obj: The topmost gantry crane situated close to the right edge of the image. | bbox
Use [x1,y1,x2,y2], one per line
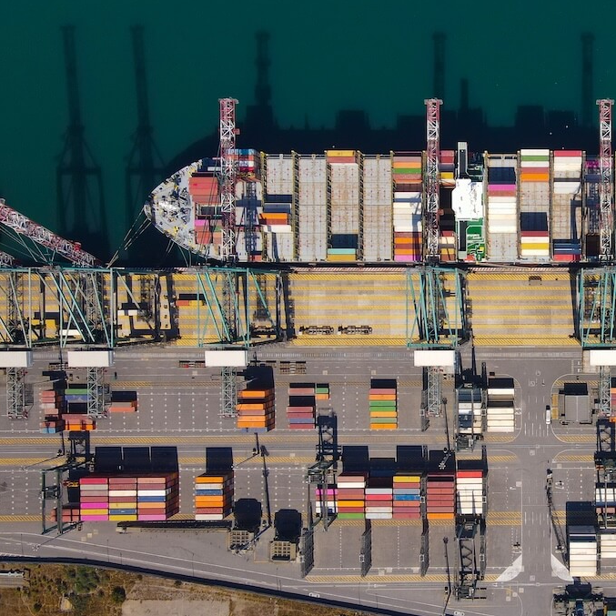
[569,97,616,420]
